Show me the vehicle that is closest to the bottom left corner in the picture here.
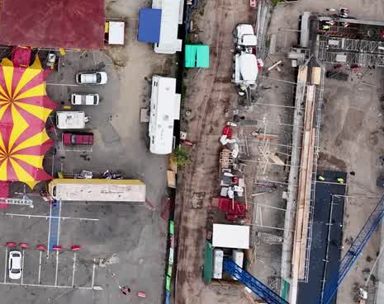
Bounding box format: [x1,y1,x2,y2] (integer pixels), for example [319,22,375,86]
[8,251,24,280]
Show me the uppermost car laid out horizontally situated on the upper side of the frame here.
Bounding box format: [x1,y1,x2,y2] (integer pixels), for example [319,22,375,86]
[76,71,108,87]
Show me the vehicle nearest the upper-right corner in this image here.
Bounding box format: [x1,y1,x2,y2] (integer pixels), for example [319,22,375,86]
[236,24,265,104]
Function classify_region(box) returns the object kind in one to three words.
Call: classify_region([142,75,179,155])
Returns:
camper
